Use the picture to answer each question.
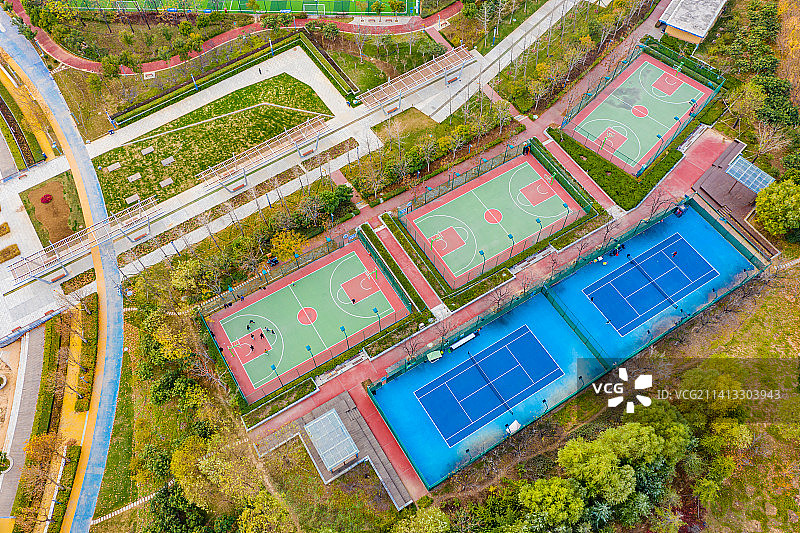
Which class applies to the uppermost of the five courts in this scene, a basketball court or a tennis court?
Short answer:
basketball court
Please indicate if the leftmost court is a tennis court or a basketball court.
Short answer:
basketball court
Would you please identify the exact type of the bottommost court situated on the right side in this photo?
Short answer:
tennis court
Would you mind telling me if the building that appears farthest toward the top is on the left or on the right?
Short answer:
right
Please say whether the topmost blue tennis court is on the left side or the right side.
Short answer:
right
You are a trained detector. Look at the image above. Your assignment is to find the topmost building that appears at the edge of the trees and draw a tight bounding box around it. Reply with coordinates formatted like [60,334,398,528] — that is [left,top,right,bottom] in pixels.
[656,0,723,48]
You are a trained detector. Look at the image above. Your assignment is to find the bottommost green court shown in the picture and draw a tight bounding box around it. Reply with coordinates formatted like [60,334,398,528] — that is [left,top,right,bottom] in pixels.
[205,240,409,404]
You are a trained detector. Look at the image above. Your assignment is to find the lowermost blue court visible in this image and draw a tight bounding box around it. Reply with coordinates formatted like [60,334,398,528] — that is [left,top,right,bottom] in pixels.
[374,292,607,486]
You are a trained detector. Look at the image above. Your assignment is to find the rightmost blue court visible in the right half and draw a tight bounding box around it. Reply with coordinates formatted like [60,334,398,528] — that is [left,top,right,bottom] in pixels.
[545,205,758,370]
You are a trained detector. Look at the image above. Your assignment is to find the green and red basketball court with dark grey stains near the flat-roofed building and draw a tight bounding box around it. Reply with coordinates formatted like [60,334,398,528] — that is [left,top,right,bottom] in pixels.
[561,52,716,177]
